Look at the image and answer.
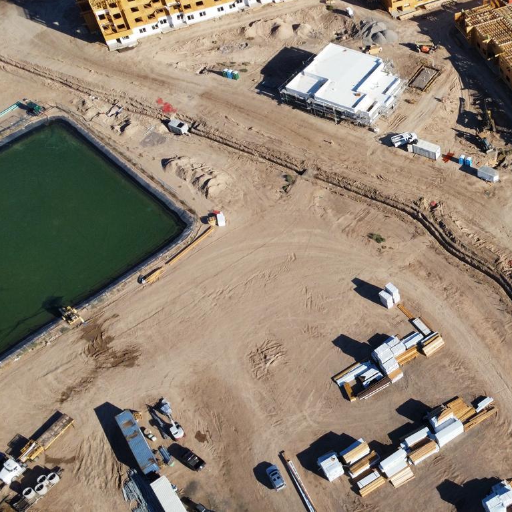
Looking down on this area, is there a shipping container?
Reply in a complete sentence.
Yes, a shipping container appears in the view.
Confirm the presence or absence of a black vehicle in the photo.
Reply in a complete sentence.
Yes, this view includes a black vehicle.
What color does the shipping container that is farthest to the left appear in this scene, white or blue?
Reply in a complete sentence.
The shipping container that is farthest to the left looks blue in the image.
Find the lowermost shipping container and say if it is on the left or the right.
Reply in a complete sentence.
The lowermost shipping container sits on the left side.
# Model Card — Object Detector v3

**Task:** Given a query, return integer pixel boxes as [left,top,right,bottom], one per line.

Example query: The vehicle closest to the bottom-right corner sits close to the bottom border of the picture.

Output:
[263,463,290,494]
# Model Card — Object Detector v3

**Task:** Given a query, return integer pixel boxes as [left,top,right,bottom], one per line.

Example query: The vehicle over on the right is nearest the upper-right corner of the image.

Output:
[405,39,438,56]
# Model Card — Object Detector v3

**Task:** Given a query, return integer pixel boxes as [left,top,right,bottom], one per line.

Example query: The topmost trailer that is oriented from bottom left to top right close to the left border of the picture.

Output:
[17,413,77,468]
